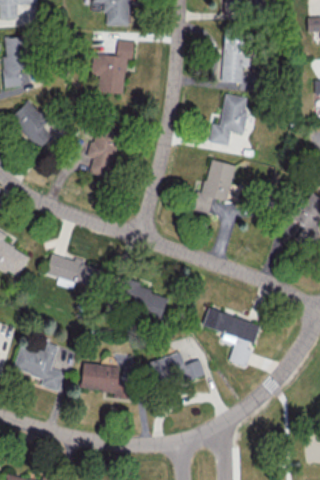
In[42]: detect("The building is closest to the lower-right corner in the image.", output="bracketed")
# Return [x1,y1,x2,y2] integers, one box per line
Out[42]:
[230,336,253,366]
